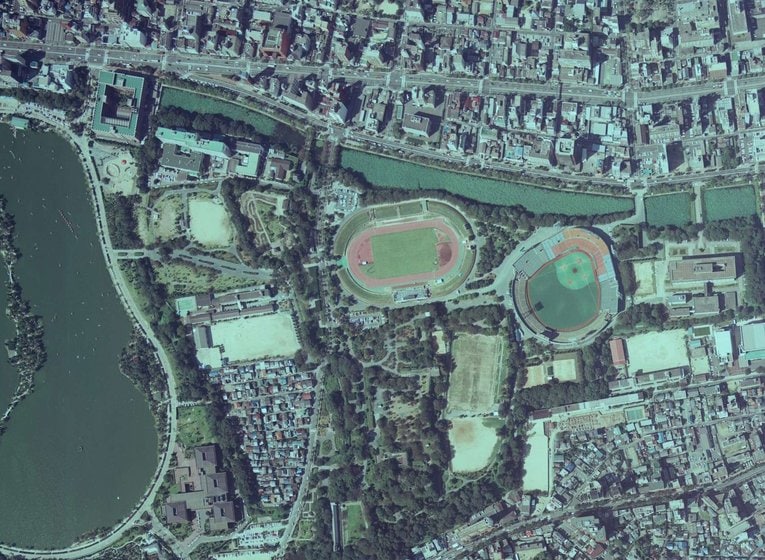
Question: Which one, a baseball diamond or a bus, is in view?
baseball diamond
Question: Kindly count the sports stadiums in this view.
two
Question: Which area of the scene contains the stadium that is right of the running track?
right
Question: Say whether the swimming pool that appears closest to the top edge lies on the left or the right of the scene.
left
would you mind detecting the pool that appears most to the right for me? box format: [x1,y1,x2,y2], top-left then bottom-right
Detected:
[687,326,713,339]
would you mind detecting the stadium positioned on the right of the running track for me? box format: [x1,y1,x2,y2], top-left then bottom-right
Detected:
[512,225,619,343]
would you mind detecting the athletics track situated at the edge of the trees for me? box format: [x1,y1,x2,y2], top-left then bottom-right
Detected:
[348,219,460,285]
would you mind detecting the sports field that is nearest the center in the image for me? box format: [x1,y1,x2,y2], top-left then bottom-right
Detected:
[355,225,453,279]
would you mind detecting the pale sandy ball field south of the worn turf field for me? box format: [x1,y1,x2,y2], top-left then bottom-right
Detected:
[450,417,506,471]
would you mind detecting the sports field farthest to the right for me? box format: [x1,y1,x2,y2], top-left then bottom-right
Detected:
[627,329,690,376]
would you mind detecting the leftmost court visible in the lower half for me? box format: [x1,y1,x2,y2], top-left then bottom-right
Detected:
[197,346,222,368]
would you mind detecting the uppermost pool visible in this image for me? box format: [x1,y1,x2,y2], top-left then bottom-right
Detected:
[176,296,197,317]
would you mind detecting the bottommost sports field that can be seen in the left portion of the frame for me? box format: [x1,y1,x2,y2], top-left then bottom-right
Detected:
[211,311,300,363]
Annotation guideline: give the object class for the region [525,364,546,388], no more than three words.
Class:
tennis court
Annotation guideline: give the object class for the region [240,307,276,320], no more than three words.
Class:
building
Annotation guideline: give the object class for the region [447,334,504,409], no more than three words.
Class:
sports field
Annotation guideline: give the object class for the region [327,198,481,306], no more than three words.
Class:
stadium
